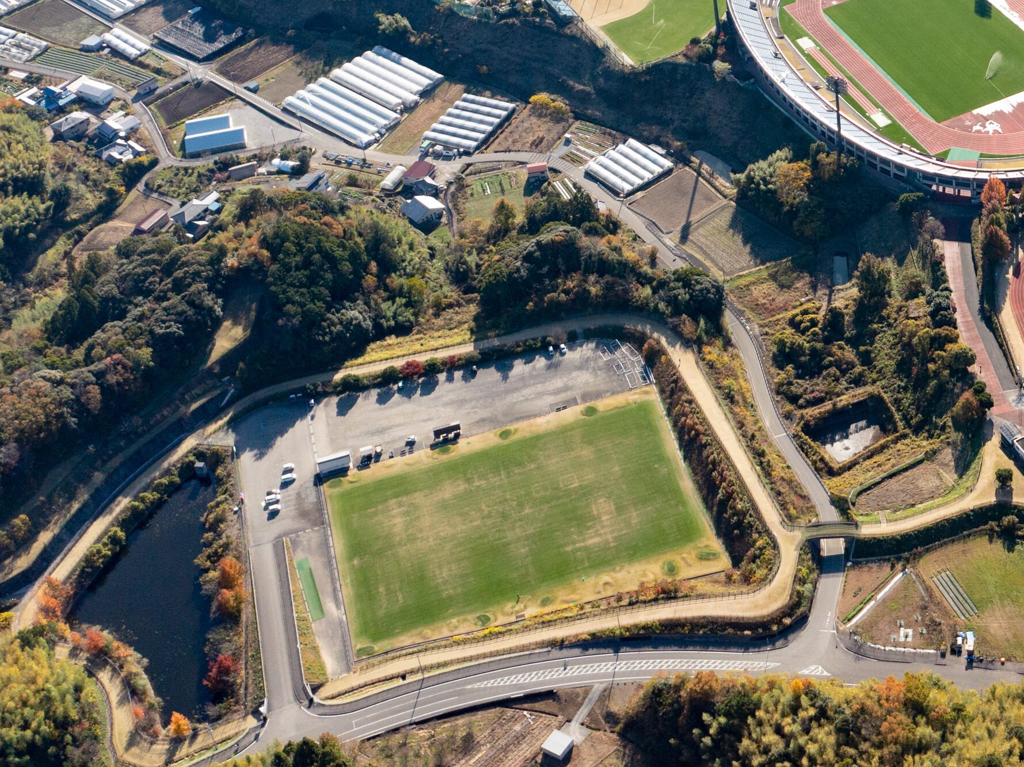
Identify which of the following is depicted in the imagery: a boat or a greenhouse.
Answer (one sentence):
This aerial view contains a greenhouse.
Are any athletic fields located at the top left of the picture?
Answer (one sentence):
No, looking at the top left of the picture, there is no athletic field.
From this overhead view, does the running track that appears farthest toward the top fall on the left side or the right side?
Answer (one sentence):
The running track that appears farthest toward the top sits on the right side.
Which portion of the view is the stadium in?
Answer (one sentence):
Look in the top right portion of the view to spot the stadium.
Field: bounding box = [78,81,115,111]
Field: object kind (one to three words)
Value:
barn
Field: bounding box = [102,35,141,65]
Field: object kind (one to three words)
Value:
greenhouse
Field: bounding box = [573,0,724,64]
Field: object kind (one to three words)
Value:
baseball field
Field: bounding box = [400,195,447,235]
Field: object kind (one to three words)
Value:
house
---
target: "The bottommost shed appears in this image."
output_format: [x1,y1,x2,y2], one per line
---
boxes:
[543,729,574,760]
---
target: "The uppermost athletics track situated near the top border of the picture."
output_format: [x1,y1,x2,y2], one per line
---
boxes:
[784,0,1024,154]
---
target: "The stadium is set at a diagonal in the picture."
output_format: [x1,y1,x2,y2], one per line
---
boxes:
[722,0,1024,205]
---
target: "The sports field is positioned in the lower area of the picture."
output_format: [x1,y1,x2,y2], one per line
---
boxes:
[322,387,732,663]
